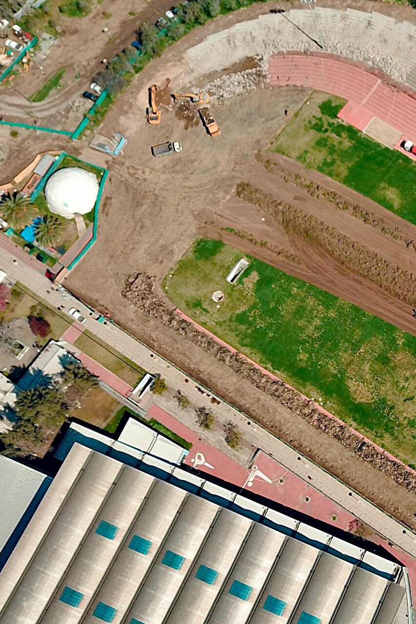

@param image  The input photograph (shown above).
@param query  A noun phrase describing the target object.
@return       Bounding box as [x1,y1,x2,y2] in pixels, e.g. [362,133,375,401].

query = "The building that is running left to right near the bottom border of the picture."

[0,422,414,624]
